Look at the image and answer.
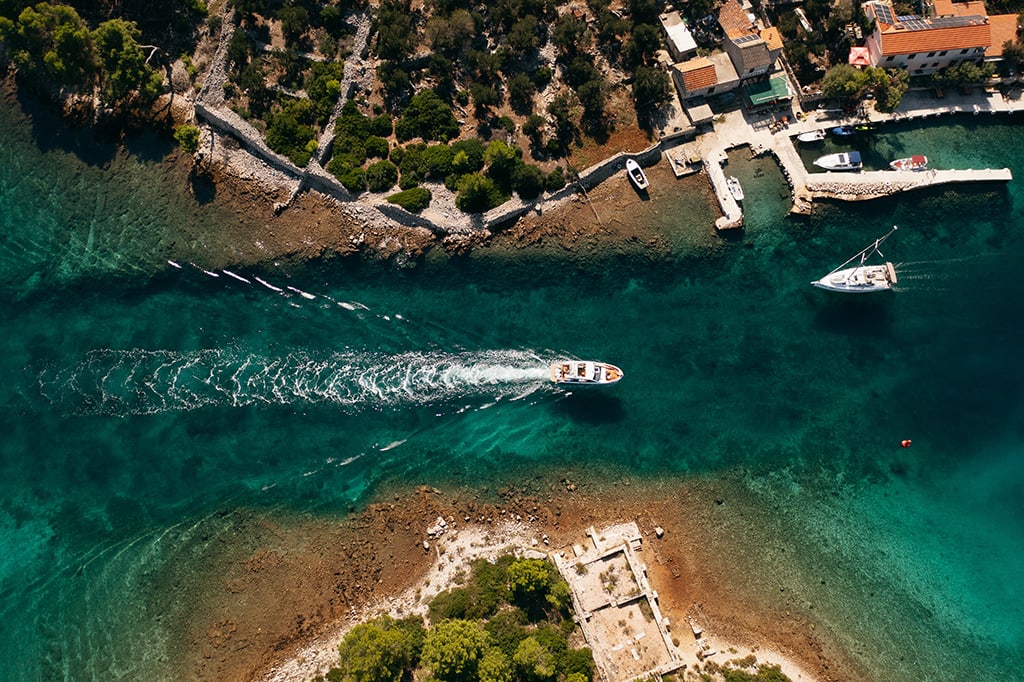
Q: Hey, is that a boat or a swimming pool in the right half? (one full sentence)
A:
It is a boat that can be seen in the right half.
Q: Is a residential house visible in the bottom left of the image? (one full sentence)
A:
No, in the bottom left of the image there is no residential house.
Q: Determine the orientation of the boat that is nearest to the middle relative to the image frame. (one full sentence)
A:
In this picture, the boat that is nearest to the middle lies from left to right.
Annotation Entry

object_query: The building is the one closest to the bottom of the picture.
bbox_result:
[551,523,687,682]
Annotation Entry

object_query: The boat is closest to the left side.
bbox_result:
[547,358,623,386]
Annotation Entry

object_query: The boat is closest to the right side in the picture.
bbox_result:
[884,153,932,171]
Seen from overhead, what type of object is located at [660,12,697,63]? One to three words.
shed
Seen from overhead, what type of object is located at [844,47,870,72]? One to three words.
gazebo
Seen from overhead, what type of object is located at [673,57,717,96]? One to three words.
house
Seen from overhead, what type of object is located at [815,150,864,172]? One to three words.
boat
